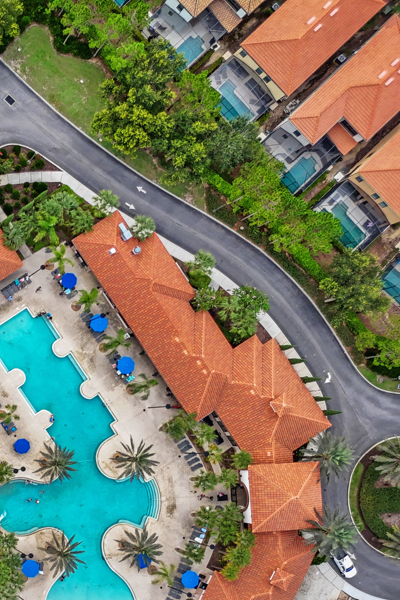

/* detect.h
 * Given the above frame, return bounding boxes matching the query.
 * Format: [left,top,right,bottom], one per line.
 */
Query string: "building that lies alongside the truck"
[71,210,333,600]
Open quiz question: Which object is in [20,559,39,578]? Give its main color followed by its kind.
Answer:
blue umbrella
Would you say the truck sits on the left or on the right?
right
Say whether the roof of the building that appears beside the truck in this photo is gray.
No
